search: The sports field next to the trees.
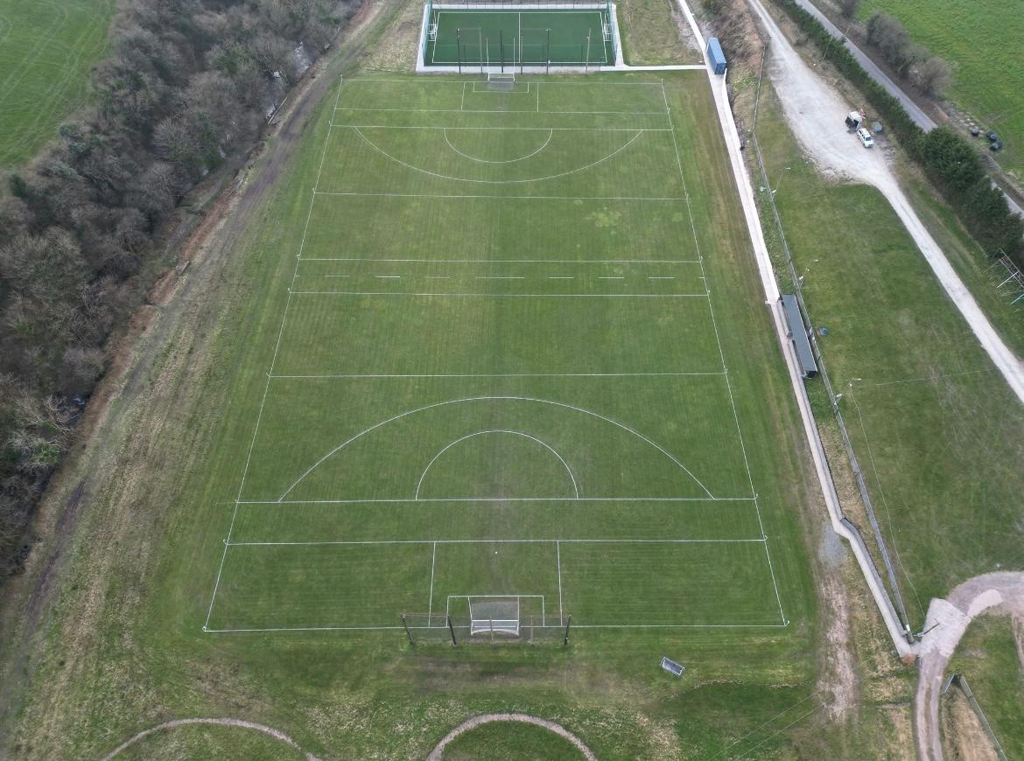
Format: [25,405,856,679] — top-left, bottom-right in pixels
[162,77,825,646]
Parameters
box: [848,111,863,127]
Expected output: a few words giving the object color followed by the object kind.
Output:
white vehicle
